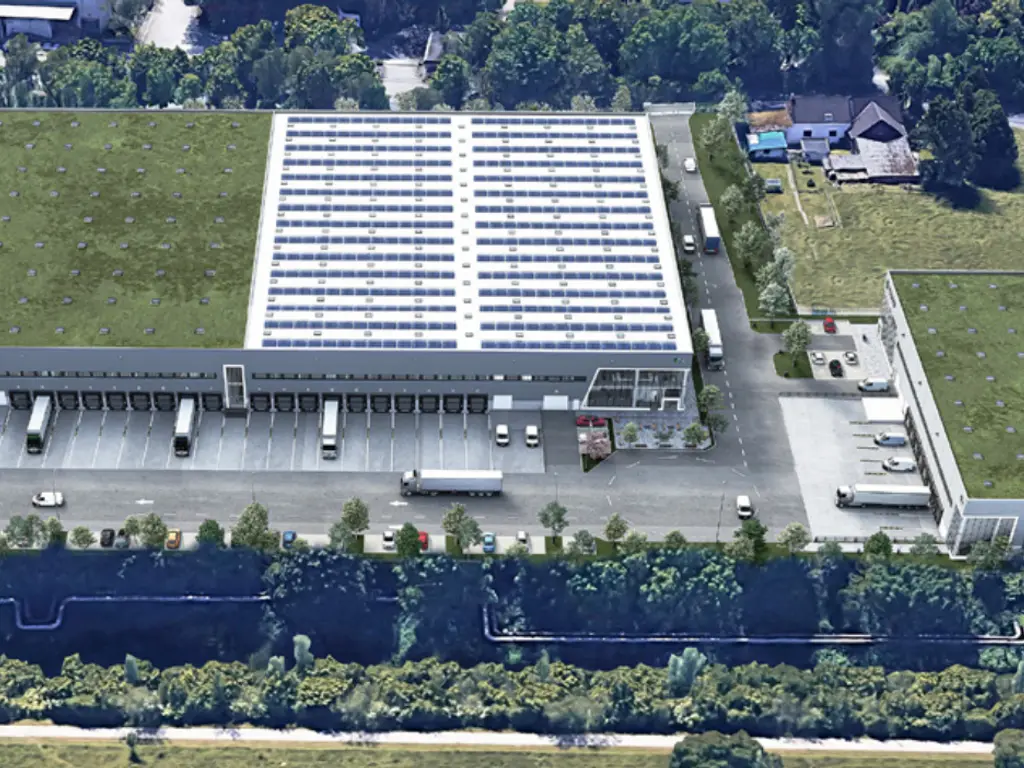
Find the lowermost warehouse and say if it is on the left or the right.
right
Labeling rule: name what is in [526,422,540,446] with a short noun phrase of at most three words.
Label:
vehicle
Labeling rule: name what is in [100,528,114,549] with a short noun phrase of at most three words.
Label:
car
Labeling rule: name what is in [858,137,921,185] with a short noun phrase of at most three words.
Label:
barn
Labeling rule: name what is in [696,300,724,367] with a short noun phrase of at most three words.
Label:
truck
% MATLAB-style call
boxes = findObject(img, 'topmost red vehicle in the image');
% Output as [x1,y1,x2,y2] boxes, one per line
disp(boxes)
[824,315,837,334]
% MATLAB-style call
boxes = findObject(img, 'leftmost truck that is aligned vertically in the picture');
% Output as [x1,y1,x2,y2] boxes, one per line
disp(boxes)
[23,398,50,454]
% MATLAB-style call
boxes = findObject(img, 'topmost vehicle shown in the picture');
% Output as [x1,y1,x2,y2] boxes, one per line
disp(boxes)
[684,157,696,173]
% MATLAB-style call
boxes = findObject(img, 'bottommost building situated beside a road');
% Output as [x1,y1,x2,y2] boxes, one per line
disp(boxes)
[878,270,1024,555]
